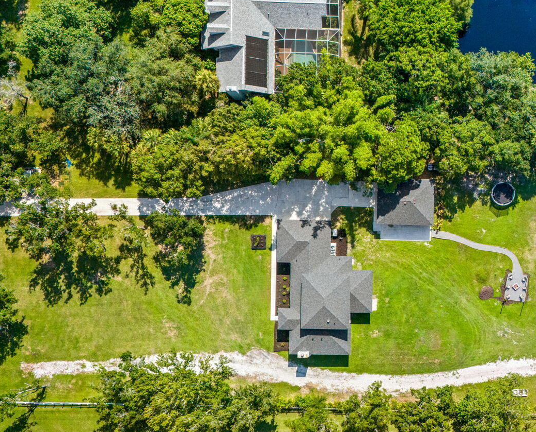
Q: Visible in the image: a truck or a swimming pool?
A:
swimming pool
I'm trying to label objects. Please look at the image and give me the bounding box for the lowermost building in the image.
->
[276,219,373,359]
